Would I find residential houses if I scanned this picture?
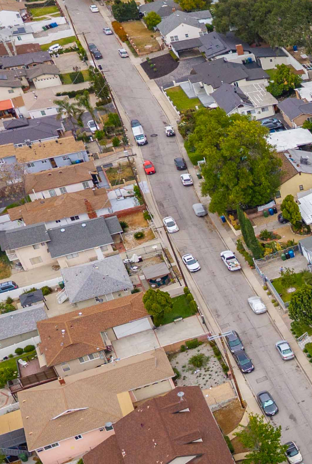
Yes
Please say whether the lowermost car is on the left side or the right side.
right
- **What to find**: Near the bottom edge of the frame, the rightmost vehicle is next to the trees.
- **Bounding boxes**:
[282,441,305,464]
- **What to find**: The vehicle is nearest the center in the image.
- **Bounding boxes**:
[164,218,179,233]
